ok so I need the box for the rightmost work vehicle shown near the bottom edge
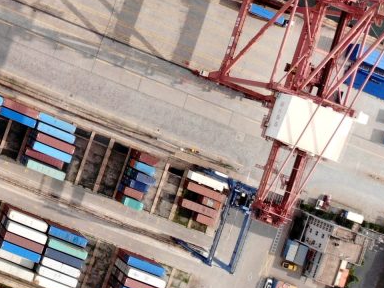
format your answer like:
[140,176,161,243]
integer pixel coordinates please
[275,259,298,274]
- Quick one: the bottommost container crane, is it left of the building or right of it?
on the left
